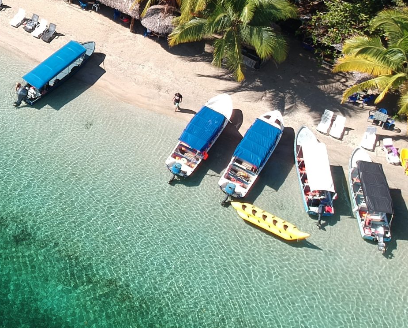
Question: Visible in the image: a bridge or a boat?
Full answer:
The image shows a boat.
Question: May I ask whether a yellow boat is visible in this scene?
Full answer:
Yes, a yellow boat appears in the view.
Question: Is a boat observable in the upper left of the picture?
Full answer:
Yes, there is a boat in the upper left of the picture.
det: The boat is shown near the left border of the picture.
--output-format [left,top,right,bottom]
[14,36,95,113]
